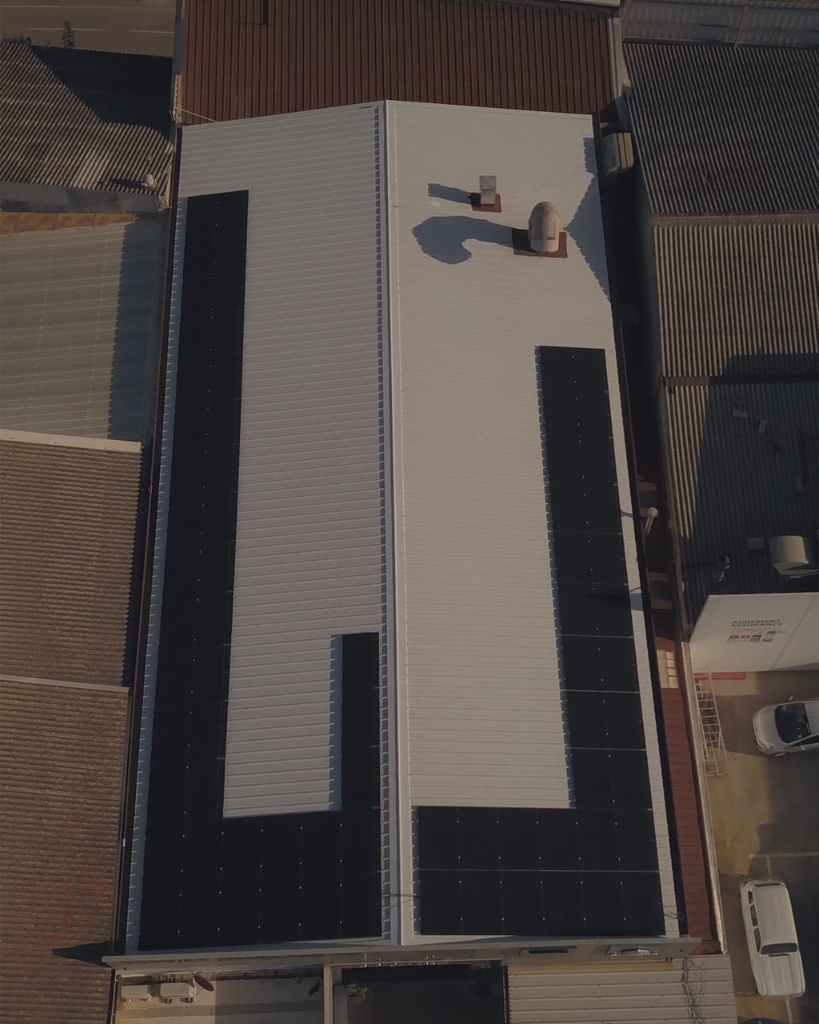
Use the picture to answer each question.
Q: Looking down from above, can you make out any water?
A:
No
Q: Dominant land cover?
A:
buildings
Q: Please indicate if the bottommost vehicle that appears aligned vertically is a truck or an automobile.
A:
automobile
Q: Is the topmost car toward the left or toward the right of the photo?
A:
right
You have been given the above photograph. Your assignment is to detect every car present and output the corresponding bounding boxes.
[739,875,806,1000]
[750,690,819,753]
[737,1014,781,1024]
